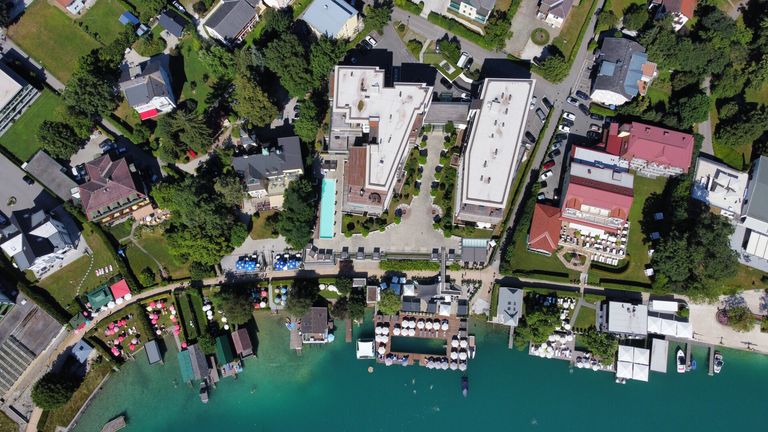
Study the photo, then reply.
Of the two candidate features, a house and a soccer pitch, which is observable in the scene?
house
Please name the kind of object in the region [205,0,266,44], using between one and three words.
house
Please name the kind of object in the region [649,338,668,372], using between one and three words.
shed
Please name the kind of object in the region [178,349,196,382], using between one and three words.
building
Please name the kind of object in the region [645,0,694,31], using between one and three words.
house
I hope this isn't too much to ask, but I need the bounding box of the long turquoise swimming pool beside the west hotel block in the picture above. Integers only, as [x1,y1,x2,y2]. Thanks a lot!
[318,177,336,238]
